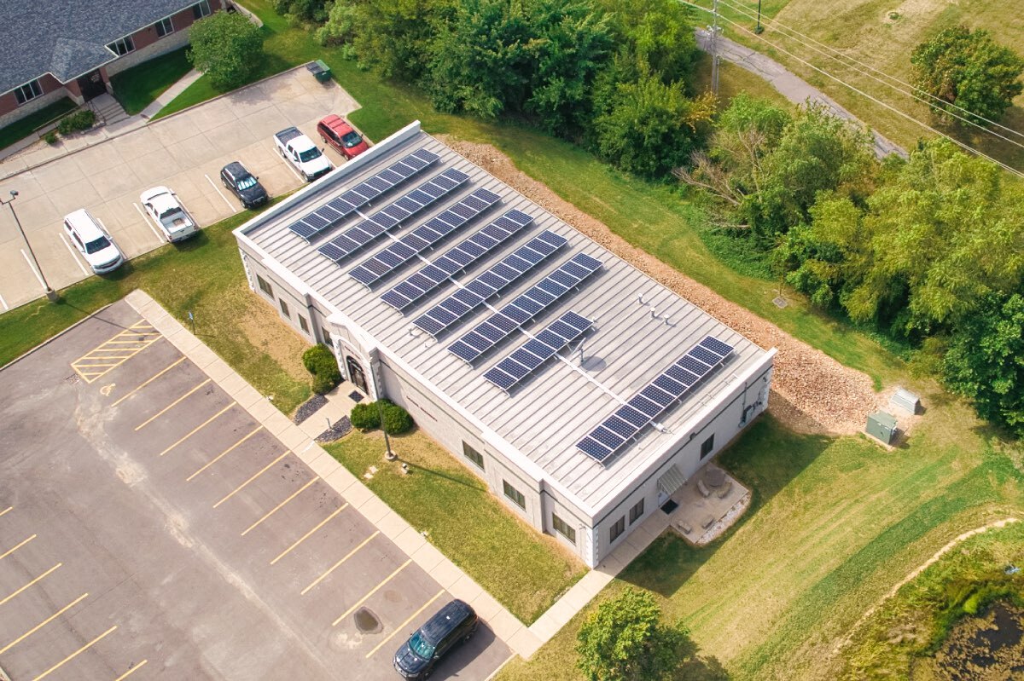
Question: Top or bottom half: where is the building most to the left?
top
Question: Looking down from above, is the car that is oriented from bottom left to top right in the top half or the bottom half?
bottom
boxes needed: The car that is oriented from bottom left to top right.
[386,596,479,681]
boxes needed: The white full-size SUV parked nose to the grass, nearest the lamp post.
[63,208,120,269]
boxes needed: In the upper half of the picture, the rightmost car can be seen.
[314,108,370,159]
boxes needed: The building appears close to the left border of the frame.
[0,0,221,138]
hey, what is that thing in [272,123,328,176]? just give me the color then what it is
white truck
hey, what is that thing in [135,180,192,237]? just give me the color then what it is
white truck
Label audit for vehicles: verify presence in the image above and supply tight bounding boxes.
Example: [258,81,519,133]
[386,596,479,681]
[314,108,370,159]
[135,180,192,237]
[272,123,328,176]
[214,157,264,207]
[63,208,120,269]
